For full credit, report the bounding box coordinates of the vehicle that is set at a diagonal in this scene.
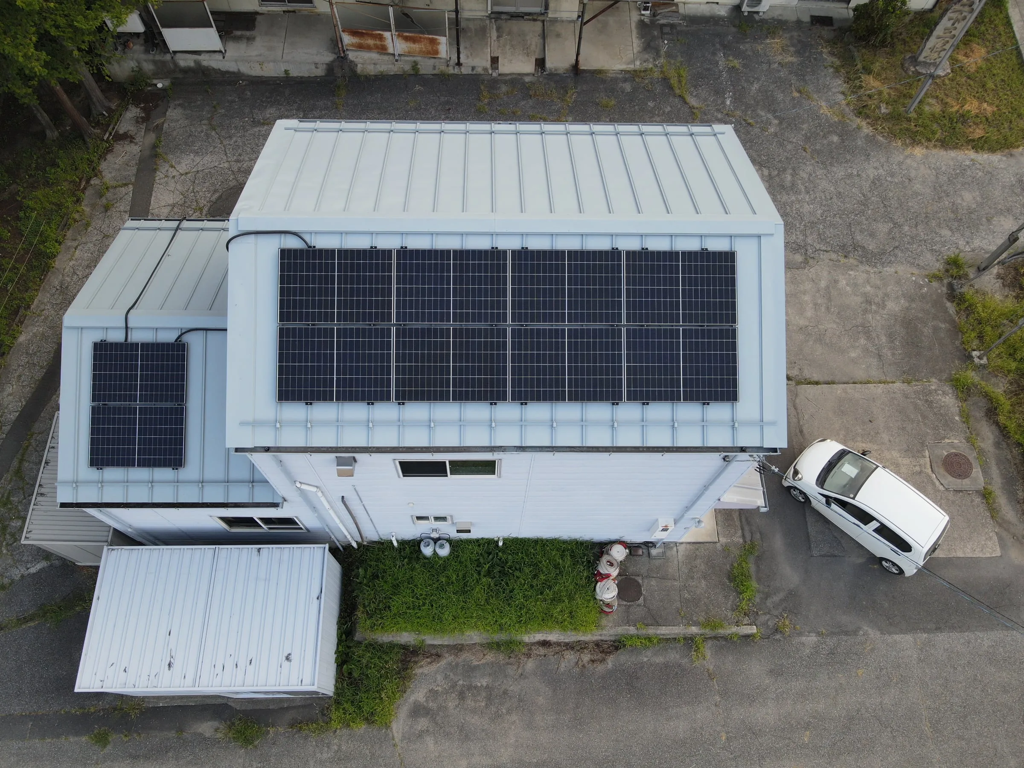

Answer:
[785,439,951,577]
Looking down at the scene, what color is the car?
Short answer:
white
